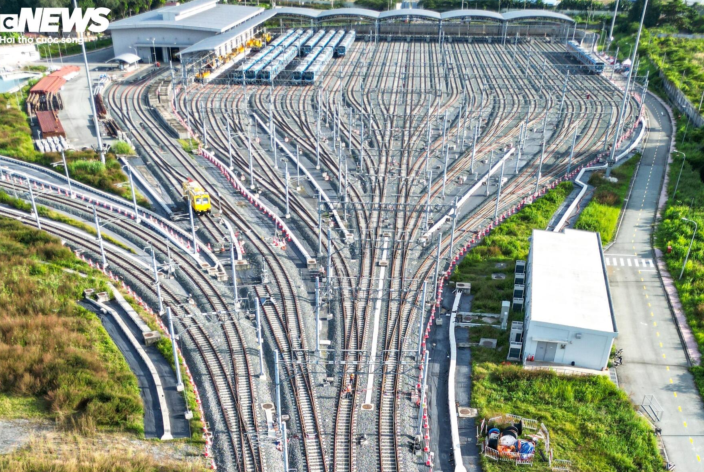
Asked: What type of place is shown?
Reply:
rail yard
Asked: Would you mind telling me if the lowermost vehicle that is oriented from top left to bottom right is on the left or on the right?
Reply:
left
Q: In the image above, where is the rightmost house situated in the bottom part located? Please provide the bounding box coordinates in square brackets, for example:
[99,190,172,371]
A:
[520,231,619,379]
